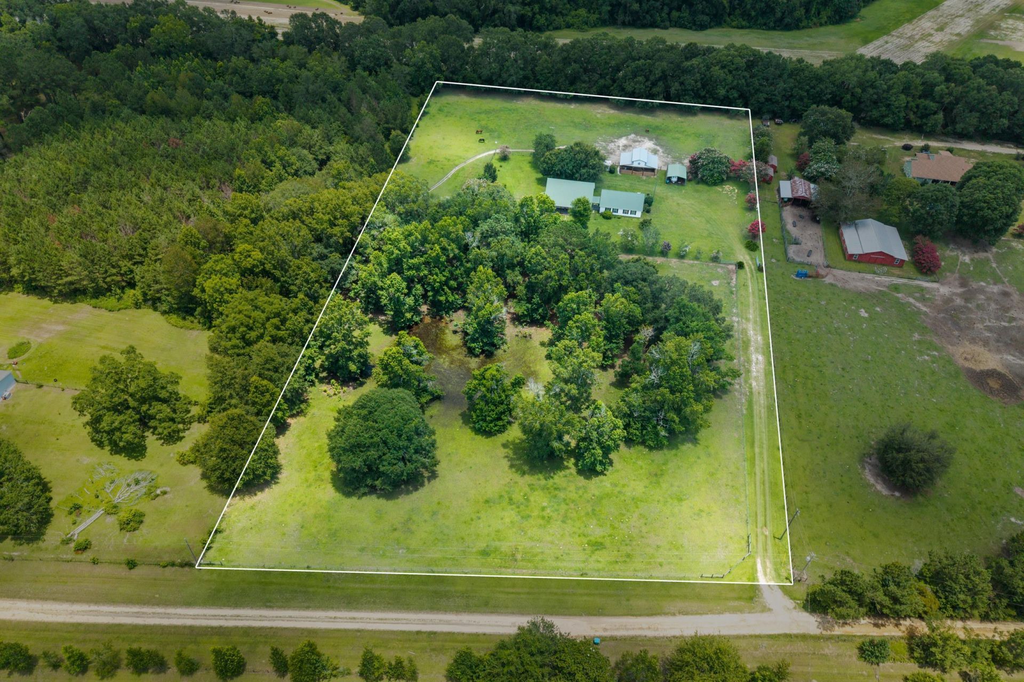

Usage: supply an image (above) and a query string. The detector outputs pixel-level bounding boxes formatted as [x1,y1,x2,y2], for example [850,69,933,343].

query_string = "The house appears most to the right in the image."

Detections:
[903,142,974,189]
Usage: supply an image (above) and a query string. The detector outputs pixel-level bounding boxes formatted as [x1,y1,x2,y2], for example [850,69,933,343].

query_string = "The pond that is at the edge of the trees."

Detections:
[416,318,484,371]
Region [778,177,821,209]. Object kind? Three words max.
barn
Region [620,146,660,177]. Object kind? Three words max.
barn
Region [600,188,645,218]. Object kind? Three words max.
house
